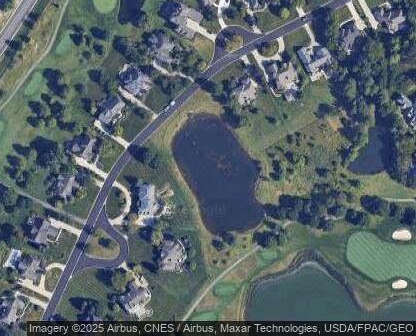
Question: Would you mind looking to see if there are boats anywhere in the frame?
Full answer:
No, the frame has no boat in it.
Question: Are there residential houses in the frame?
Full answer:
Yes, the frame does contain a residential house.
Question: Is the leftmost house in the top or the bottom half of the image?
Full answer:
You can find the leftmost house in the bottom half.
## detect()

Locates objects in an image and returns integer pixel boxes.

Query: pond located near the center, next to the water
[172,112,266,233]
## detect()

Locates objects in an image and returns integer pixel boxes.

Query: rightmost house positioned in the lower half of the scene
[156,236,191,272]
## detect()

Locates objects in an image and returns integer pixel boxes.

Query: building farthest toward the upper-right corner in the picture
[372,5,409,36]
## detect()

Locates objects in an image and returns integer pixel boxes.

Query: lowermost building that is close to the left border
[0,291,30,325]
